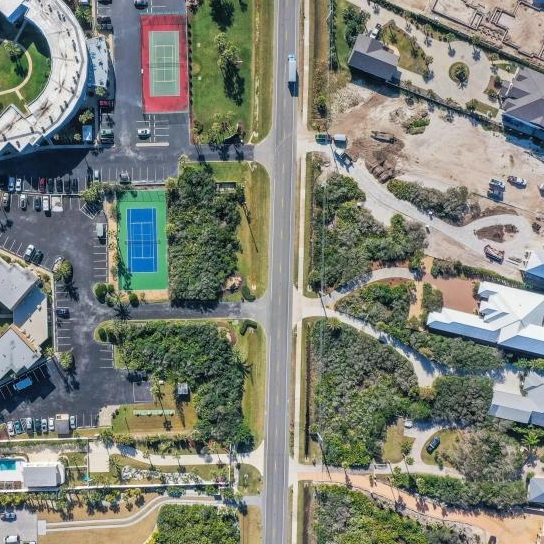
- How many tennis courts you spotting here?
two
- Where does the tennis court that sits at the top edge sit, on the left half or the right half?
left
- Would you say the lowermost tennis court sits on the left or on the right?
left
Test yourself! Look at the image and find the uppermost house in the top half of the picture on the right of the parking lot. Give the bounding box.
[347,34,402,87]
